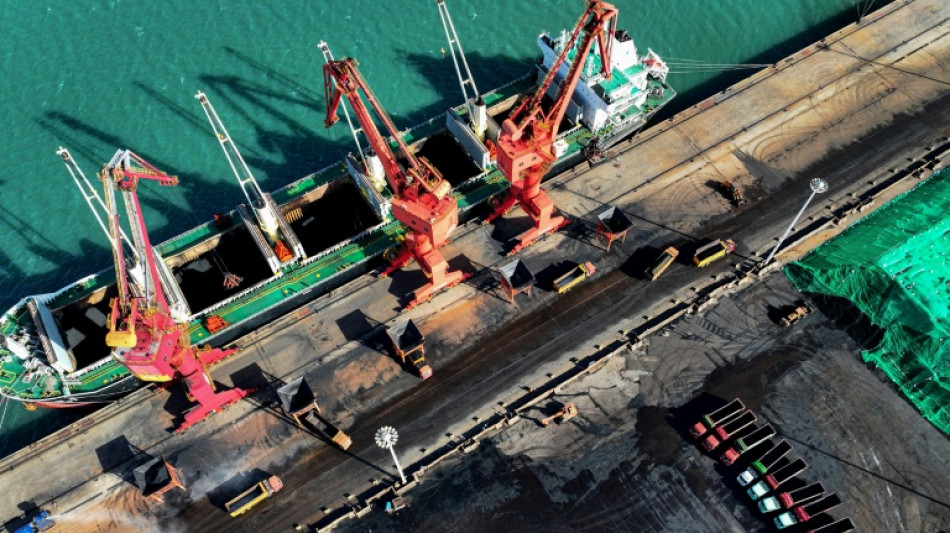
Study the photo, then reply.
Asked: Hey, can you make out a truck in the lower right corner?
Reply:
Yes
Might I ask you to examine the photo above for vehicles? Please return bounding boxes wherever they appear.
[809,517,856,533]
[386,496,407,517]
[551,260,596,296]
[743,457,807,503]
[753,481,825,517]
[777,304,812,335]
[544,399,581,428]
[717,424,776,470]
[691,239,738,270]
[404,345,434,384]
[224,473,287,517]
[643,247,679,284]
[732,438,792,490]
[722,174,747,197]
[769,492,841,533]
[687,398,745,443]
[699,410,757,457]
[302,406,358,453]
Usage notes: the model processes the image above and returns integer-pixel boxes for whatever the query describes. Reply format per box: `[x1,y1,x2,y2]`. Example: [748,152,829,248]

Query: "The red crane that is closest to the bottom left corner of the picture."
[86,154,258,434]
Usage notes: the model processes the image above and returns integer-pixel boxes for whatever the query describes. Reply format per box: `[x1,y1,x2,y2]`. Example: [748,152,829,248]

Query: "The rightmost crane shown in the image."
[482,0,626,255]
